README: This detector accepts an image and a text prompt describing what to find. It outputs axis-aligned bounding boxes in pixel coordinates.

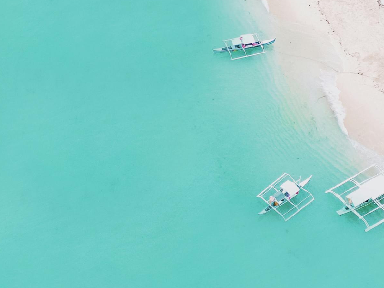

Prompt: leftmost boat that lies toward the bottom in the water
[257,173,315,221]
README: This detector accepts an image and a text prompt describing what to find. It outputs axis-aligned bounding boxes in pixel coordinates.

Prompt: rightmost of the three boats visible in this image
[325,164,384,231]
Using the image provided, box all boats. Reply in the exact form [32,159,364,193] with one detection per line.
[212,33,276,60]
[257,173,315,221]
[325,164,384,231]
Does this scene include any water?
Yes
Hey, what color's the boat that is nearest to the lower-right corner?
white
